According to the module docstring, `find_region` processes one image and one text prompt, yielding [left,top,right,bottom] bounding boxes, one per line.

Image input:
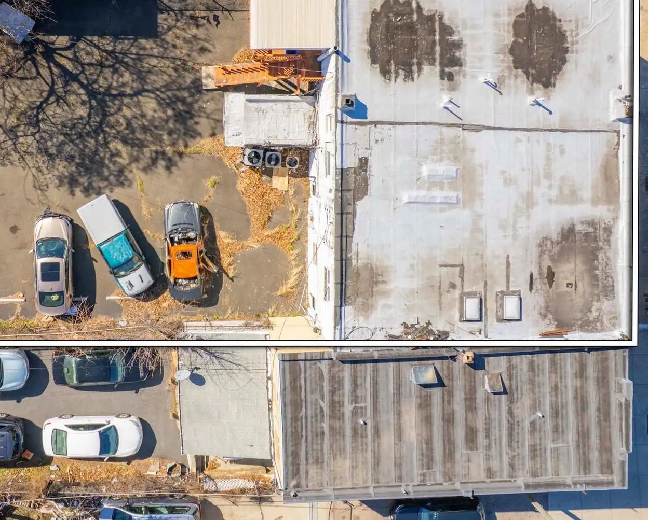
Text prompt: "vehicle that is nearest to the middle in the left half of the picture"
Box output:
[161,199,218,299]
